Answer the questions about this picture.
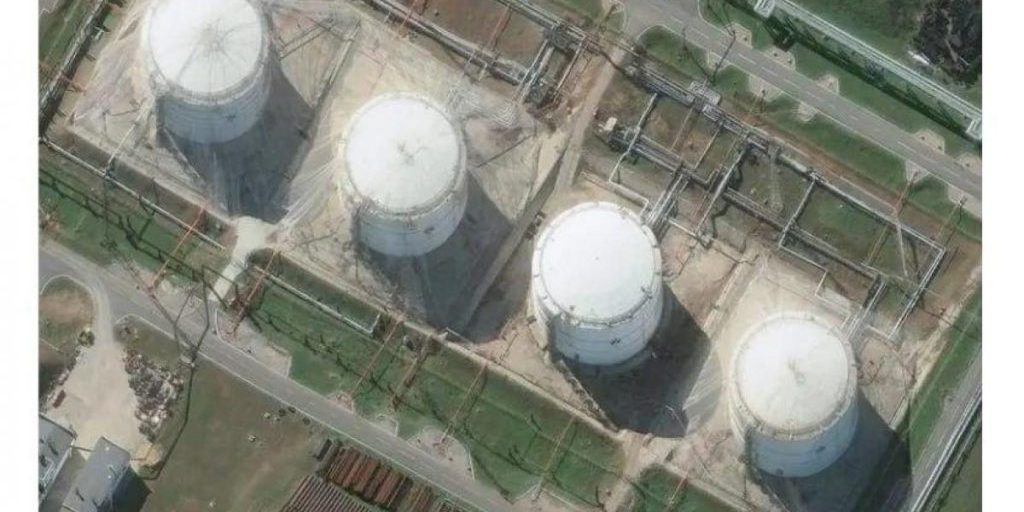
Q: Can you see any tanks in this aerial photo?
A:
Yes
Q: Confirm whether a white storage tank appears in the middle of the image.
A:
Yes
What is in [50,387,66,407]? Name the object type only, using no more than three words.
vehicle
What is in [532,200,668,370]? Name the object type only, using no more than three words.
storage tank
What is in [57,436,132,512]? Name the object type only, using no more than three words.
building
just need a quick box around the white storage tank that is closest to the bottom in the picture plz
[733,311,864,481]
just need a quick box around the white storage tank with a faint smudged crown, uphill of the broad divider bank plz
[340,92,473,259]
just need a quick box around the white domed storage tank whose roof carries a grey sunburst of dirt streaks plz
[139,0,282,147]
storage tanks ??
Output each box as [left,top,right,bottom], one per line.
[532,200,668,370]
[340,92,473,259]
[733,311,864,481]
[139,0,282,147]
